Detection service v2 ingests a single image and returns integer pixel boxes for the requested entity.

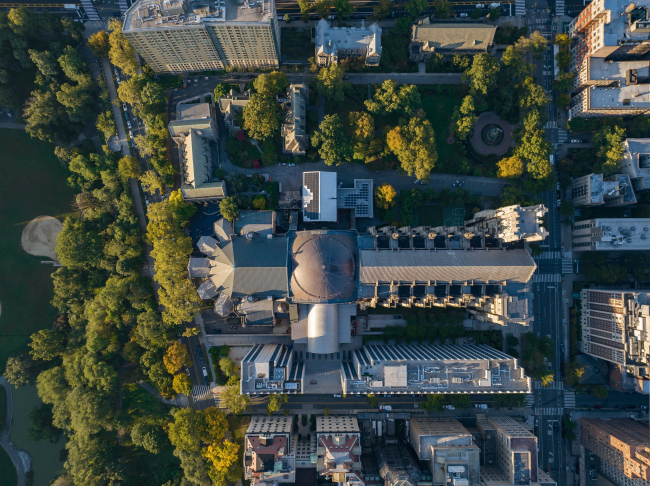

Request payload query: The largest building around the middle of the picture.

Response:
[188,206,545,352]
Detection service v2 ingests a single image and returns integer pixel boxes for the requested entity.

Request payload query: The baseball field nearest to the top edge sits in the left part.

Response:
[22,216,60,258]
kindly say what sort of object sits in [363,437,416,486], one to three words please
building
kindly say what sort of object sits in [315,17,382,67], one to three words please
house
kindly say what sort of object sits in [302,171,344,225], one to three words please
building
